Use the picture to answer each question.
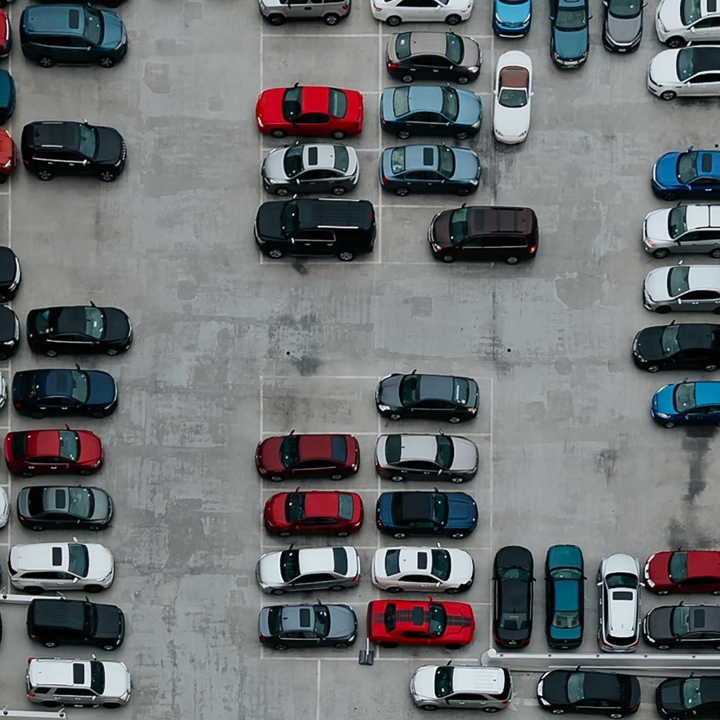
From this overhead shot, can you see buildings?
No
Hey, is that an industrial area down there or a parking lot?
parking lot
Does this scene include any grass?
No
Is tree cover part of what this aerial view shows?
No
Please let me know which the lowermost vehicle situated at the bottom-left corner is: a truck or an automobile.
automobile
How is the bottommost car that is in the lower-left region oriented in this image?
horizontally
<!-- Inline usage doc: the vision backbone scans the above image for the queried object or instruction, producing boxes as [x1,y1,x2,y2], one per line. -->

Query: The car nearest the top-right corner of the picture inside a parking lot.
[655,0,720,47]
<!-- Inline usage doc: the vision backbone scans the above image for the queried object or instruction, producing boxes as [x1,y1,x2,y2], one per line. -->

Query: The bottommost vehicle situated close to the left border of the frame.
[24,651,132,707]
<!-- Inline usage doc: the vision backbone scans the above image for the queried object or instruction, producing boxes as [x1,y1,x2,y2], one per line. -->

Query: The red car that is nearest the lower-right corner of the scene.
[642,543,720,595]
